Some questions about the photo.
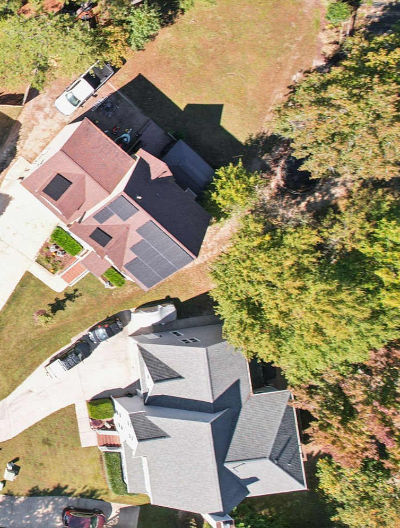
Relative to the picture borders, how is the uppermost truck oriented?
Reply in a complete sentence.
The uppermost truck is oriented on a diagonal.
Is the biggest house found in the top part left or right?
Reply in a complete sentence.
The biggest house found in the top part sits on the left side.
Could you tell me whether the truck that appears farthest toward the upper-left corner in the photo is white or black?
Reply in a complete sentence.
In this view, the truck that appears farthest toward the upper-left corner is white.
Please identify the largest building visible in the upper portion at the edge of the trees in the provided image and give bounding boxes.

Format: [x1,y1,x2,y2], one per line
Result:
[13,116,211,292]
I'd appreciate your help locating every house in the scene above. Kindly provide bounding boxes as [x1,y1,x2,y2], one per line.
[13,116,211,292]
[97,329,307,528]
